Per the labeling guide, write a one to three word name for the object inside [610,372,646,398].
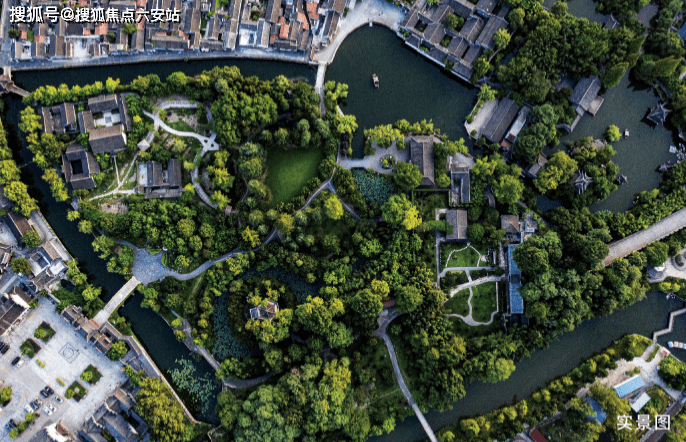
shed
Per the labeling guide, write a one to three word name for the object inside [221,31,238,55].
house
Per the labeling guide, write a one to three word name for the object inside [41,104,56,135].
building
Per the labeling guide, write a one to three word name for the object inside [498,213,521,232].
building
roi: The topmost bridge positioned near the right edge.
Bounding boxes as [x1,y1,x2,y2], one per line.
[606,207,686,267]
